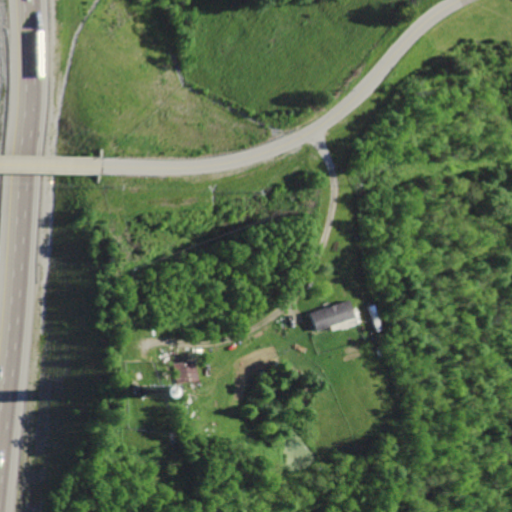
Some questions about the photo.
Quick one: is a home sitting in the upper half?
No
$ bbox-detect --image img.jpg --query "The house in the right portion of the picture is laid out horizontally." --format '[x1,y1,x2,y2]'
[310,302,364,332]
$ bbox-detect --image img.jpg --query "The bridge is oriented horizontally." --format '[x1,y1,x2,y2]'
[0,149,102,183]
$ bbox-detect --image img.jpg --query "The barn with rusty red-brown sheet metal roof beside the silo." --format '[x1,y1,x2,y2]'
[175,364,200,384]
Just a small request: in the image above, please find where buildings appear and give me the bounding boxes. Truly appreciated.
[175,364,200,384]
[310,302,364,332]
